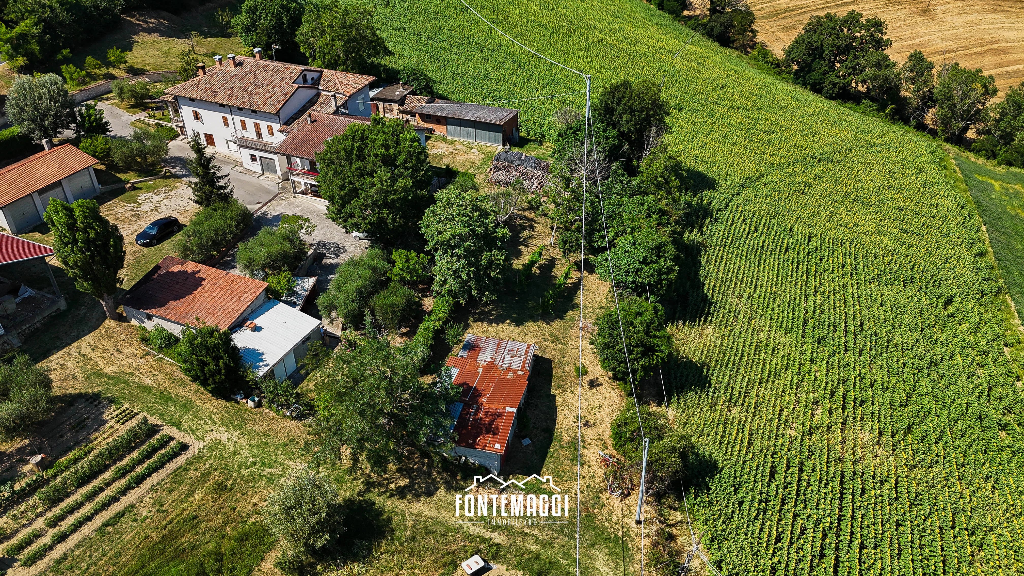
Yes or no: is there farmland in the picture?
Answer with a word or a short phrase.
Yes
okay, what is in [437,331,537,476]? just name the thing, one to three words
shed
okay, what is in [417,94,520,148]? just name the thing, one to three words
shed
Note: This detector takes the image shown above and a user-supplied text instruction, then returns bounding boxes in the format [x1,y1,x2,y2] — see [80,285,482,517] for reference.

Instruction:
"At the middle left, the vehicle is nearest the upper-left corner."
[130,216,181,244]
